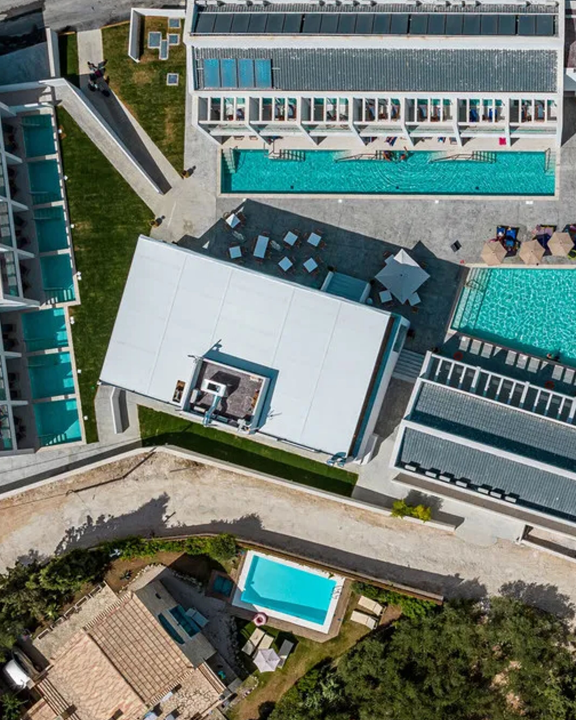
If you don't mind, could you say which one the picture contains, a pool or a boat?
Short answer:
pool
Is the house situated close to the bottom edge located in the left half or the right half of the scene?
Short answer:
left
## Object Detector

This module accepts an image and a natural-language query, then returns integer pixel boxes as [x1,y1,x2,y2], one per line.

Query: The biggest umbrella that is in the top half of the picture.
[375,248,432,306]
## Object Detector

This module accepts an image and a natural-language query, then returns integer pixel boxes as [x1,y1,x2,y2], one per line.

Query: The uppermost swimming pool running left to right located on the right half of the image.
[217,144,560,200]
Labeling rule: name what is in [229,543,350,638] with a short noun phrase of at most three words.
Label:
swimming pool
